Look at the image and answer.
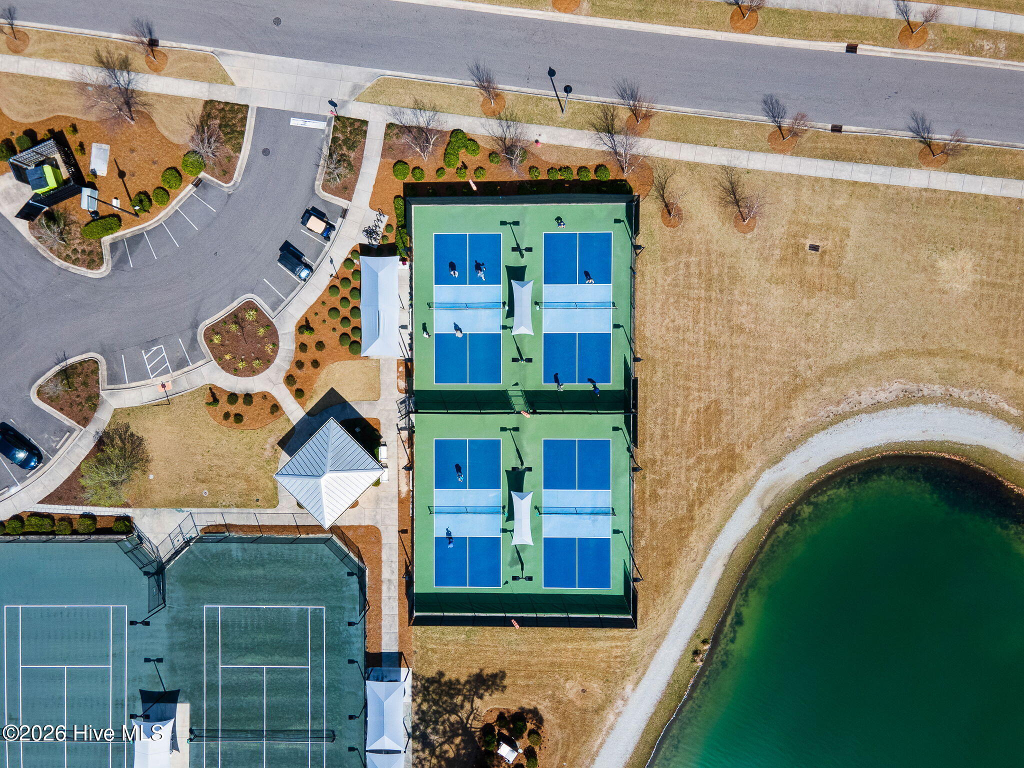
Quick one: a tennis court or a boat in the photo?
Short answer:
tennis court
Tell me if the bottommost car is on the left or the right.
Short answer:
left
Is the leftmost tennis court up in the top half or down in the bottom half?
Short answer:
bottom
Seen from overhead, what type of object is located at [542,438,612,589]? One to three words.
sports court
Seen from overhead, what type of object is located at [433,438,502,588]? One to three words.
sports court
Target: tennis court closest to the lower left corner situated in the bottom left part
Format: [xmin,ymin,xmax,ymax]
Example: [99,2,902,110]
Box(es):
[0,541,165,768]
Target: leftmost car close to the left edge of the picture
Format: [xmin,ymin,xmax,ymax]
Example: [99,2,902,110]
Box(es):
[0,427,42,471]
